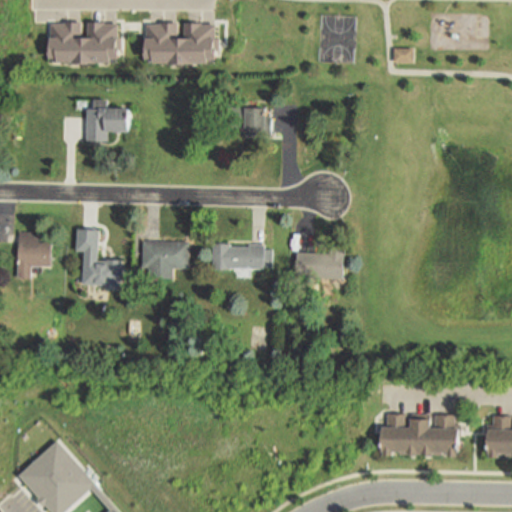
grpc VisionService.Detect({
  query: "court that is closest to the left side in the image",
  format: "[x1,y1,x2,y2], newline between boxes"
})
[320,16,358,62]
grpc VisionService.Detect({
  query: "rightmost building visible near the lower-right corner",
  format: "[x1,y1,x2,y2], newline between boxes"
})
[484,414,512,458]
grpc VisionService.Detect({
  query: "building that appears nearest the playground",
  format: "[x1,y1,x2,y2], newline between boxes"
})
[394,48,416,64]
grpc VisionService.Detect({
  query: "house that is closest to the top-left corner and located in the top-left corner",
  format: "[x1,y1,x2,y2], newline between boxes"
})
[48,22,120,66]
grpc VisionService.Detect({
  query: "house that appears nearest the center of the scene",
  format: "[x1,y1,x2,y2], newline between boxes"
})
[213,243,272,270]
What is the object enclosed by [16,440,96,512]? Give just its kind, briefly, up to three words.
building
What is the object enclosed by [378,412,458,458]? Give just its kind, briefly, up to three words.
house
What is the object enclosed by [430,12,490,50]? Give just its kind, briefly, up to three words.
playground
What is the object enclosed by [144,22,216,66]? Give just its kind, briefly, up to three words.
house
